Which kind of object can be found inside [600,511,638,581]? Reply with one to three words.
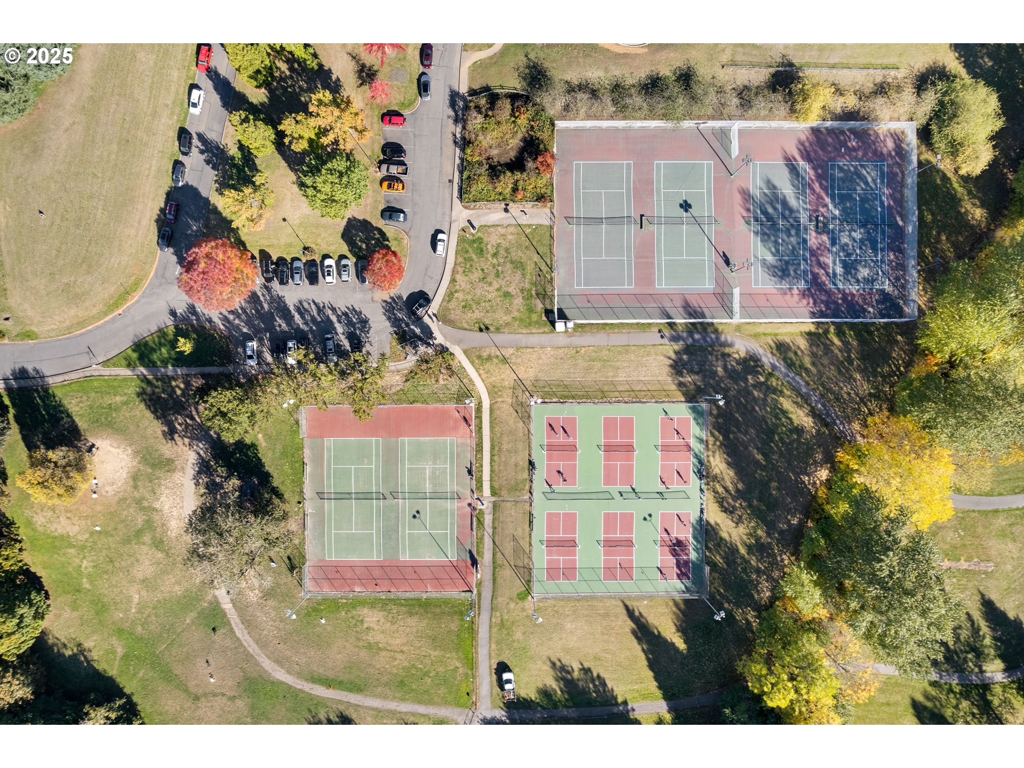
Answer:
sports court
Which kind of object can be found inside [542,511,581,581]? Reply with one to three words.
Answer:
sports court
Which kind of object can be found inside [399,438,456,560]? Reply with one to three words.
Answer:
tennis court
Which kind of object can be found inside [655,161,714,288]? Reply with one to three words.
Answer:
tennis court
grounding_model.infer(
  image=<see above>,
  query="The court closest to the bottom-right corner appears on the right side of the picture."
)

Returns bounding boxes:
[657,511,695,581]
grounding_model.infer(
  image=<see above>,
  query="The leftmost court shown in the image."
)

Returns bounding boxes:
[325,438,382,560]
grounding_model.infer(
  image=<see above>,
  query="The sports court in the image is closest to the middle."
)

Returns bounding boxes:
[542,416,581,486]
